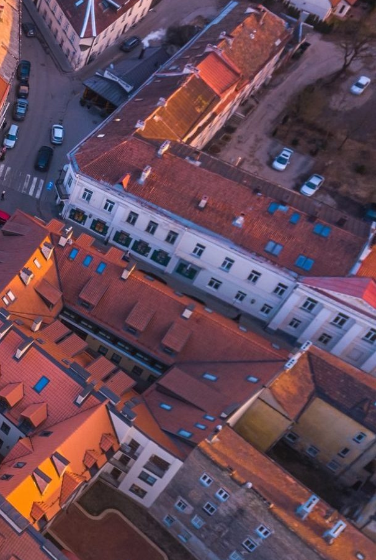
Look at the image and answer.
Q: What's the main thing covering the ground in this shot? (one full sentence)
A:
For the most part, this view shows buildings.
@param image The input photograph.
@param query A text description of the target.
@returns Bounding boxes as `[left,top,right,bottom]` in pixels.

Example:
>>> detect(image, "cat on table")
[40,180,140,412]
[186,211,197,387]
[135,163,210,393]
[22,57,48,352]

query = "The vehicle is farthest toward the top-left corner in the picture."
[21,21,36,38]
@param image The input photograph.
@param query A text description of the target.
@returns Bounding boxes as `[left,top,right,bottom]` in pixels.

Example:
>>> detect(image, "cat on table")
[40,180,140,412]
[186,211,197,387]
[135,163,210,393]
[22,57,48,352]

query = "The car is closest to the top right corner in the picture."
[350,76,369,94]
